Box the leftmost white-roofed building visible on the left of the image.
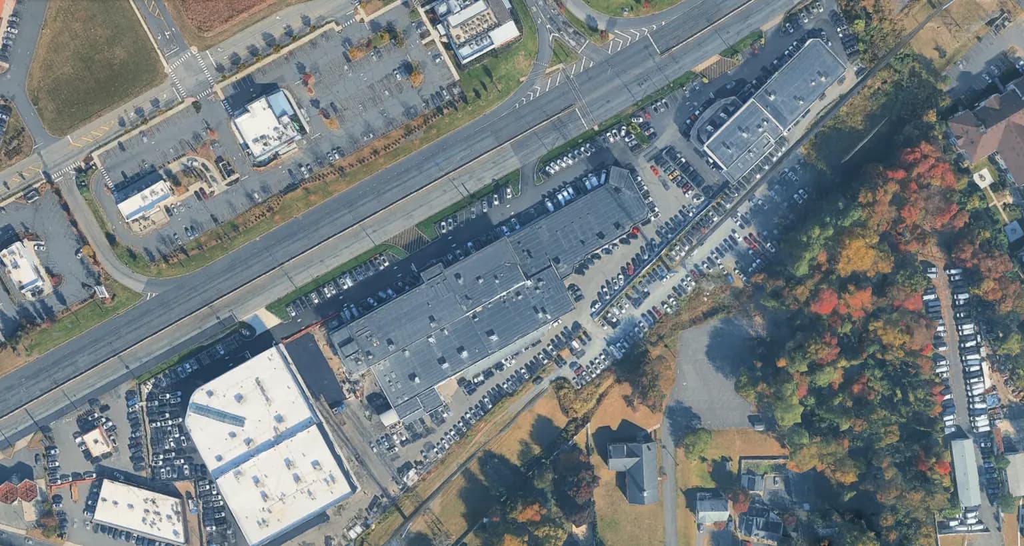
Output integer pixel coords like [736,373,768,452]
[0,242,44,293]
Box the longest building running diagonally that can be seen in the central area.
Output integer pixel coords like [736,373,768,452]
[329,186,648,427]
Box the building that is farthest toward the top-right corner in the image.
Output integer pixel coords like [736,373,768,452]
[947,75,1024,200]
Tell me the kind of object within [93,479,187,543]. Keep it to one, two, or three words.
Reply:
building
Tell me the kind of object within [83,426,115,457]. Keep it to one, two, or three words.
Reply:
building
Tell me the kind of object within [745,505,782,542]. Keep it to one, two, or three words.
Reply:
house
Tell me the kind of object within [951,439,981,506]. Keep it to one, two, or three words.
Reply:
shed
